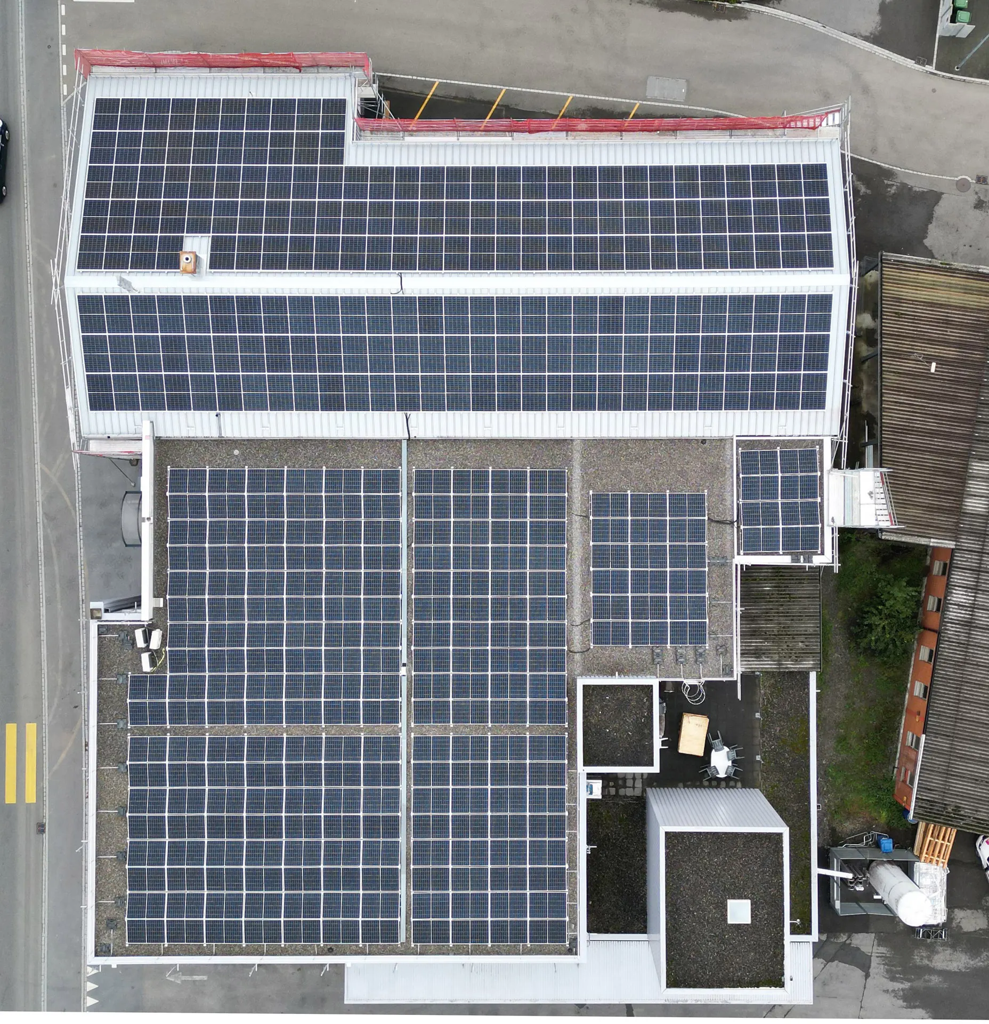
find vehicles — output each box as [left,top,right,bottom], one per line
[974,835,989,885]
[0,117,11,201]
